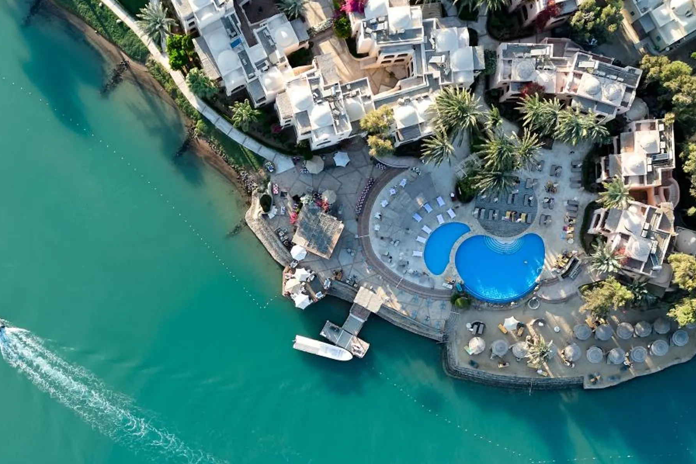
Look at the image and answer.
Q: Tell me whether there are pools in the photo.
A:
Yes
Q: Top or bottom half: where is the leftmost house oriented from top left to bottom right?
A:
top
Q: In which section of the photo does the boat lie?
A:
bottom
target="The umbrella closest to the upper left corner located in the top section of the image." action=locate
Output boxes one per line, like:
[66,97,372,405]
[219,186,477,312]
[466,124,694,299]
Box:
[306,155,324,174]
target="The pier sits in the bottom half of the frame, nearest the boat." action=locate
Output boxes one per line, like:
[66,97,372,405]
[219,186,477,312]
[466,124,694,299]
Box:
[320,287,382,358]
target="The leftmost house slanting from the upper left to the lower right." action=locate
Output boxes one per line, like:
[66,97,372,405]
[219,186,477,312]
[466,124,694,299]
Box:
[173,0,266,108]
